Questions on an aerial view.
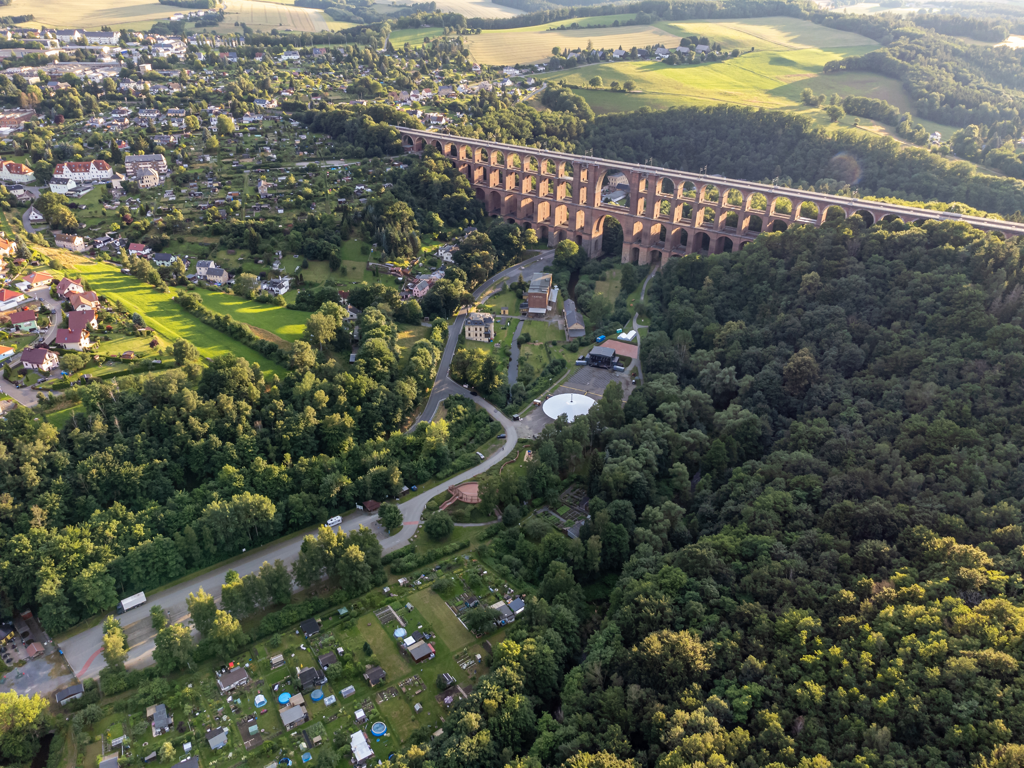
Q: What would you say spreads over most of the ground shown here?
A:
trees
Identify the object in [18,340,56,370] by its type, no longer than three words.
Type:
house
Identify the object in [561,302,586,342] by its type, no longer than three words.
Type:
barn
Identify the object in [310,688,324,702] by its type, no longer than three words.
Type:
swimming pool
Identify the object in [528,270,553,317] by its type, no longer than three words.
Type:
building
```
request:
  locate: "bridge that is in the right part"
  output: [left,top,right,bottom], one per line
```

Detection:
[379,125,1024,267]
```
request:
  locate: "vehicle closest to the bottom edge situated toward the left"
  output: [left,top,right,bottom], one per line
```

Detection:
[115,591,145,612]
